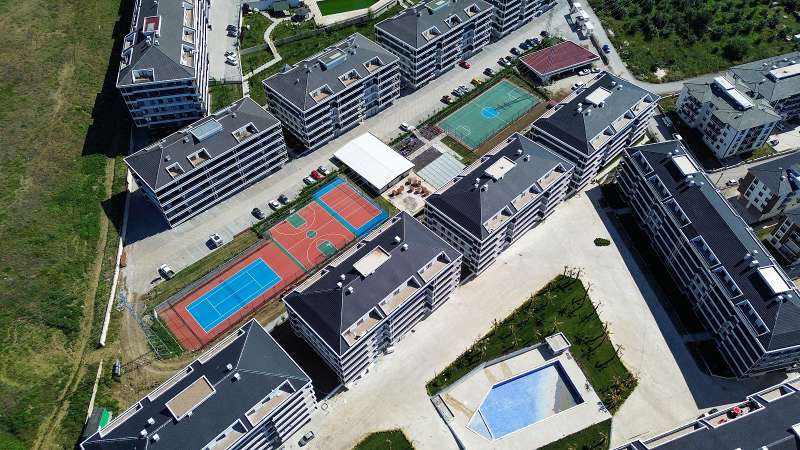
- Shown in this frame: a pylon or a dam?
pylon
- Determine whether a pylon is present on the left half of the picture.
Yes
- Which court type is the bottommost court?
tennis court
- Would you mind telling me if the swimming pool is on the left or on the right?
right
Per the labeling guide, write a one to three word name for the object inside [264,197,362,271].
basketball court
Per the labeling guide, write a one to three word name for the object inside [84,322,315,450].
building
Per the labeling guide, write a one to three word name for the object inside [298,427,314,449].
car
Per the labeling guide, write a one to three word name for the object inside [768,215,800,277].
house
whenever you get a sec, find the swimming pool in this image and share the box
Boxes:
[431,341,612,450]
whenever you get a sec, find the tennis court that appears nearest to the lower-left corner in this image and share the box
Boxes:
[158,238,305,354]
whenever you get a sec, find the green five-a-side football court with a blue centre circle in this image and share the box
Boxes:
[436,79,544,150]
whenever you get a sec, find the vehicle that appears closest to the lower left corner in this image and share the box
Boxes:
[110,359,127,380]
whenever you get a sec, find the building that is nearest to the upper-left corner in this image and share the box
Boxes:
[116,0,212,123]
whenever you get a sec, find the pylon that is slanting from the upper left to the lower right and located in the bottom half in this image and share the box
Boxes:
[120,290,171,362]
